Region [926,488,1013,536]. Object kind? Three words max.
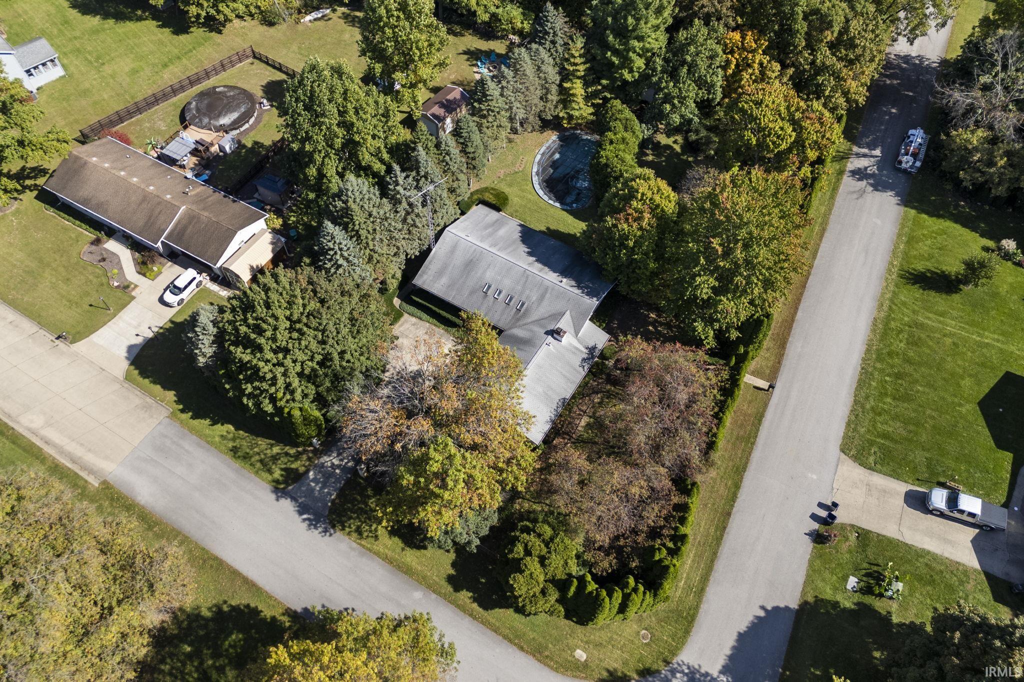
truck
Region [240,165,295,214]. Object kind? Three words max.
gazebo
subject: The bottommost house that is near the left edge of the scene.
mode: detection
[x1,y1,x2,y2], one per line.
[42,137,272,287]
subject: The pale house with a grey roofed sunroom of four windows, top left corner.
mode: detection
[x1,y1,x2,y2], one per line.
[0,35,71,94]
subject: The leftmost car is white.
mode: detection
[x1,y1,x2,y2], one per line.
[158,268,204,310]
